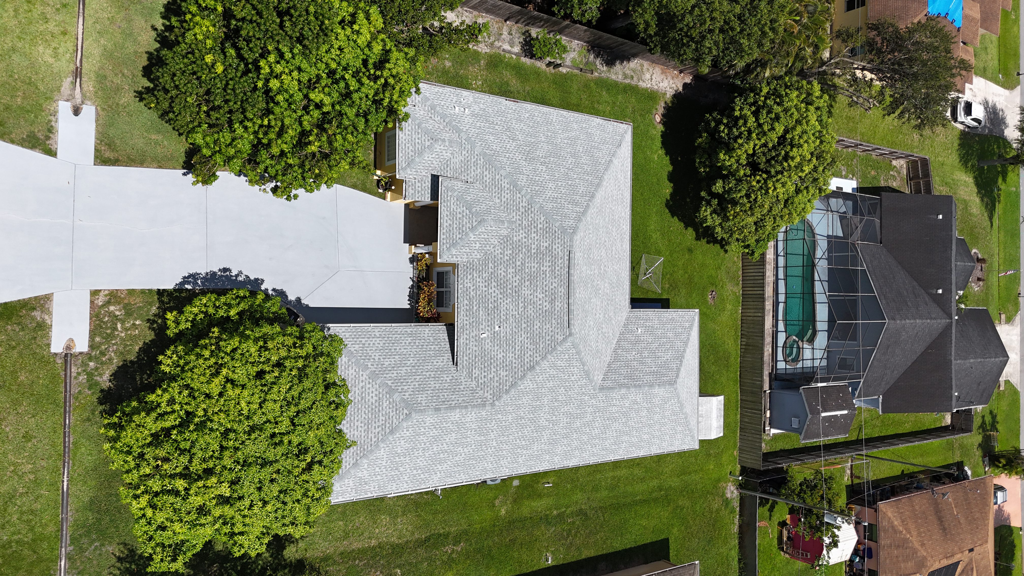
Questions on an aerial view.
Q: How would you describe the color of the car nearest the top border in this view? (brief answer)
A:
white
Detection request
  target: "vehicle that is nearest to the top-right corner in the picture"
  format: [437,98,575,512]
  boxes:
[955,95,990,124]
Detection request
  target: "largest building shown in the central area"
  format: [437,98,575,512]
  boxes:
[326,79,700,507]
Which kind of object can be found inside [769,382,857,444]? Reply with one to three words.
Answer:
shed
